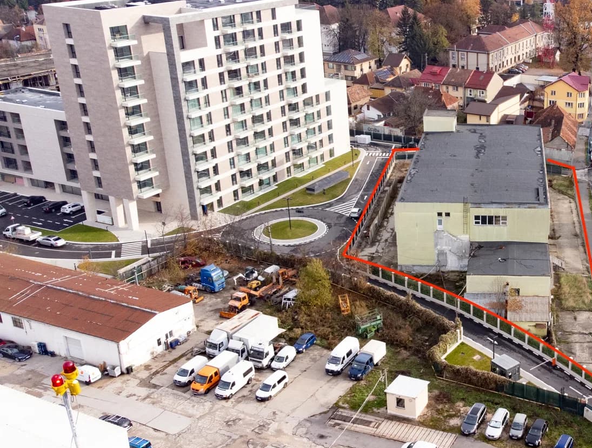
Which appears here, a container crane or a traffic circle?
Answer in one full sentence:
There is a traffic circle in the scene.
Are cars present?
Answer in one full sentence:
Yes, the frame does contain a car.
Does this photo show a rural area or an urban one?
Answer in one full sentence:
From above, the setting appears urban.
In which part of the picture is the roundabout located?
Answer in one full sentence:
Look in the center portion of the view to spot the roundabout.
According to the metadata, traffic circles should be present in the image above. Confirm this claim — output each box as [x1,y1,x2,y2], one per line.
[200,201,373,266]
